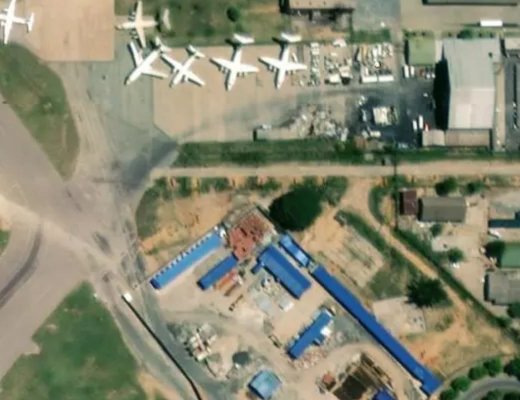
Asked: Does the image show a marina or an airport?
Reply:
airport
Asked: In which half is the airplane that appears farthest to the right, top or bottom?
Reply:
top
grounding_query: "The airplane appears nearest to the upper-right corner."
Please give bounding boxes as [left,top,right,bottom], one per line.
[262,36,308,87]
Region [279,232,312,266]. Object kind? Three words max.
shed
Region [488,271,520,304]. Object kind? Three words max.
house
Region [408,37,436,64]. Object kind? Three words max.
shed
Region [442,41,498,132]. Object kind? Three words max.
hangar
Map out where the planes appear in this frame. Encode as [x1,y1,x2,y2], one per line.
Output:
[0,0,34,43]
[117,0,168,46]
[126,37,171,82]
[214,37,261,88]
[167,43,210,86]
[262,36,308,87]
